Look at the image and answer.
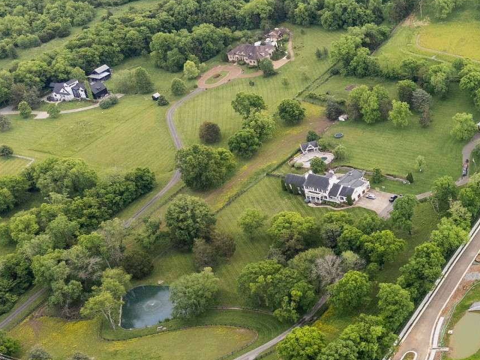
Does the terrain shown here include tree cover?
Yes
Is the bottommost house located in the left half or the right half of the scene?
right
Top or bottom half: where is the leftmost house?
top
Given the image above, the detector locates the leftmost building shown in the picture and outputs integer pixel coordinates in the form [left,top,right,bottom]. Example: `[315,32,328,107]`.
[52,80,93,102]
